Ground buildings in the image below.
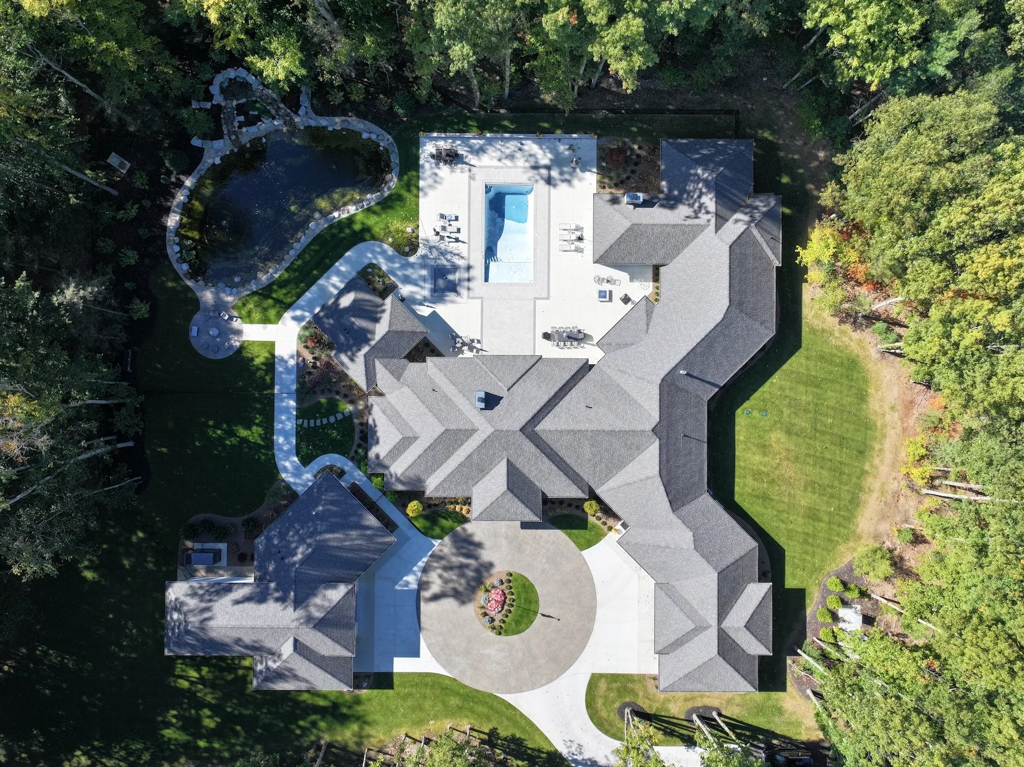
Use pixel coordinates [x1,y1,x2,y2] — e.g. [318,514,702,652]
[164,469,397,691]
[309,137,783,693]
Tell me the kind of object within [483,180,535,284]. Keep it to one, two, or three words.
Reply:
swimming pool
